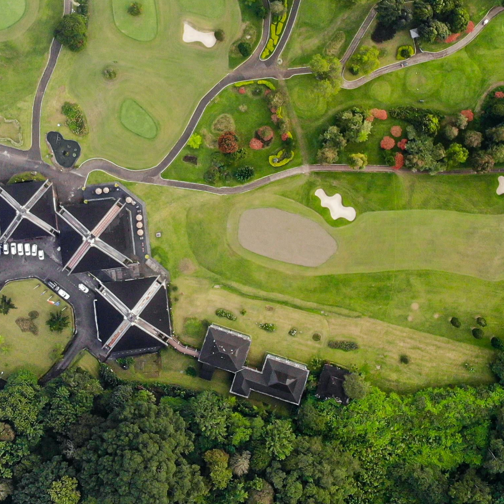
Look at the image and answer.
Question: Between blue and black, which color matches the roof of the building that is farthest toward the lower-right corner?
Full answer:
The roof of the building that is farthest toward the lower-right corner is black.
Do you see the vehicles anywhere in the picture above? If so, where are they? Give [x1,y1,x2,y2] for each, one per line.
[38,249,45,261]
[58,288,71,300]
[77,282,89,294]
[17,243,24,256]
[482,19,491,25]
[32,244,38,257]
[24,243,30,257]
[11,243,17,256]
[47,280,61,292]
[3,242,10,256]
